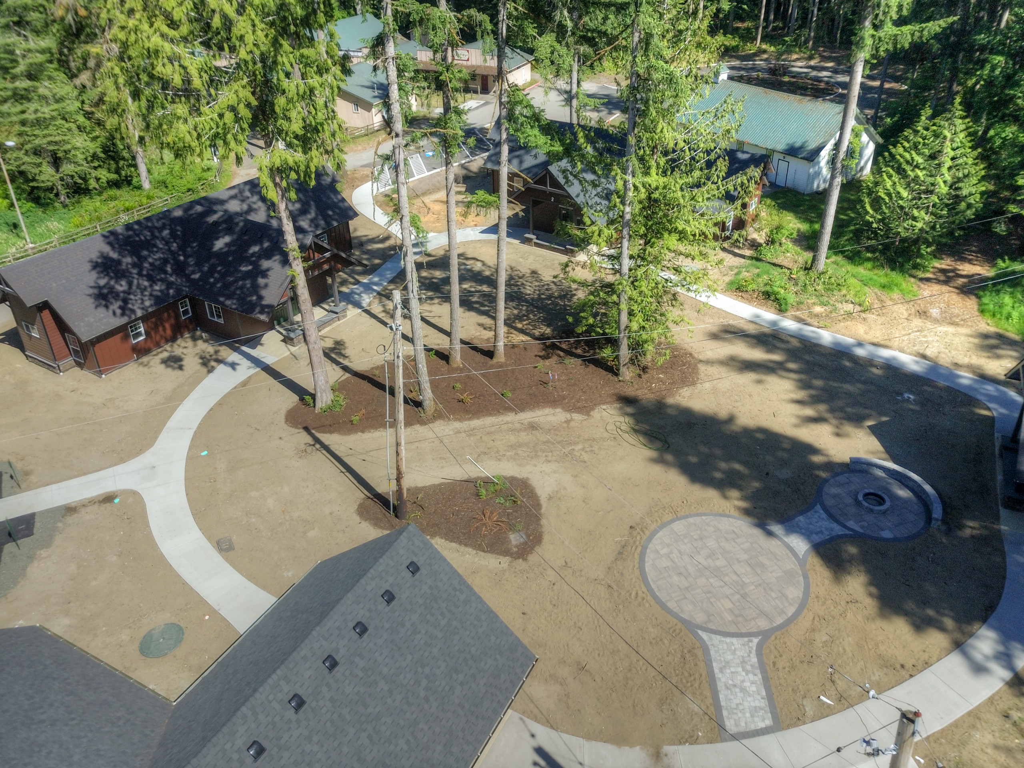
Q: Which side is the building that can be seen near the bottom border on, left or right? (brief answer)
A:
left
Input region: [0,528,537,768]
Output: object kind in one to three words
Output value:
building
